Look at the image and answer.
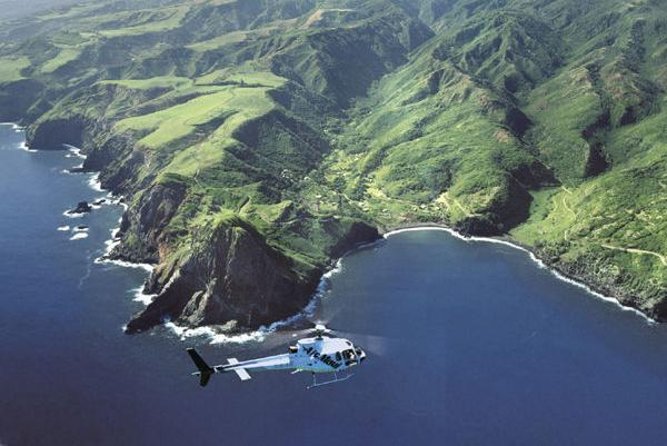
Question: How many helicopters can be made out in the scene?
one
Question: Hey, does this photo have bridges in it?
No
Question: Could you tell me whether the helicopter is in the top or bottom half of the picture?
bottom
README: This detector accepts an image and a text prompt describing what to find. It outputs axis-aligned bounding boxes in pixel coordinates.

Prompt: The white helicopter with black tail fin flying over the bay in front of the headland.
[184,285,408,388]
